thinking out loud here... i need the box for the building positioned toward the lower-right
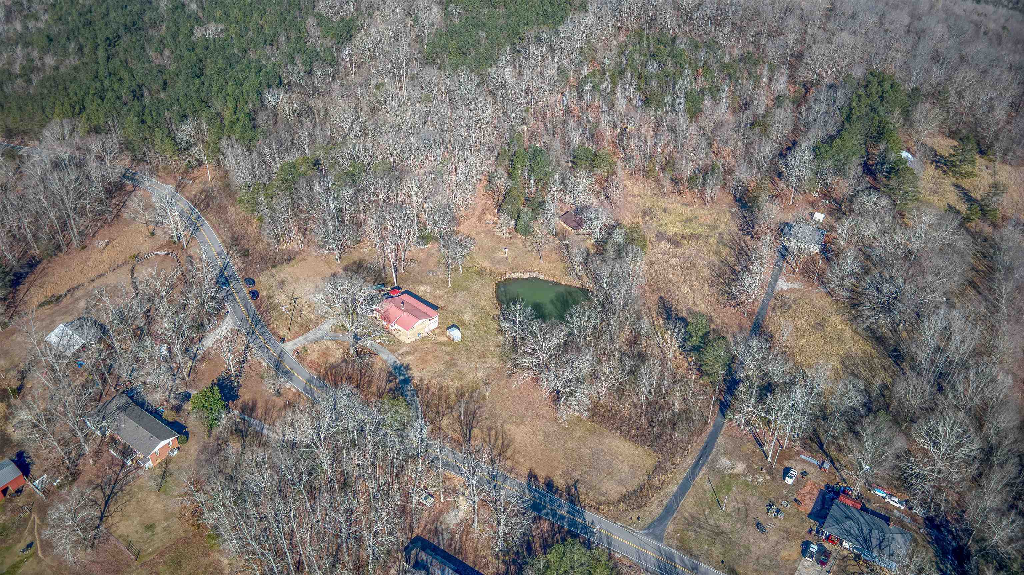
[825,491,919,575]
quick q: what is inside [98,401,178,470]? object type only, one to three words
house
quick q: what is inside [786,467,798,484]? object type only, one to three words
vehicle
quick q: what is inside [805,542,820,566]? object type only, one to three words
vehicle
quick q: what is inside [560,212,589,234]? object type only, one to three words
building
